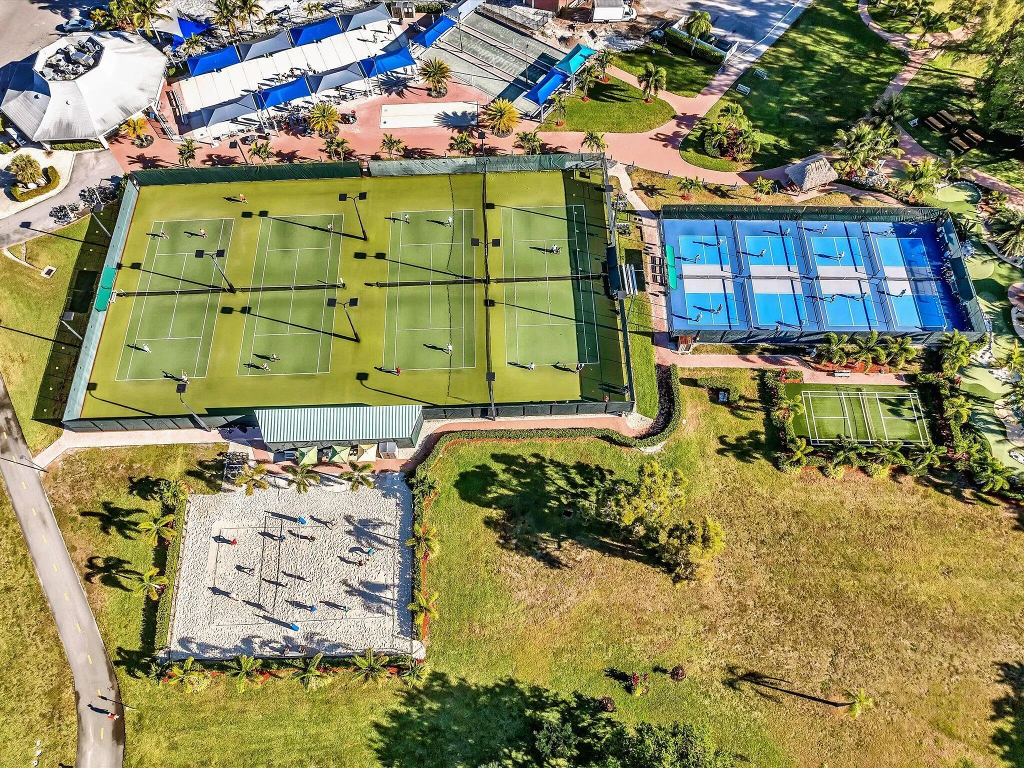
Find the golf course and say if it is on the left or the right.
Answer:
right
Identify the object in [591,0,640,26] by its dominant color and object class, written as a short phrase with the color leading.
white truck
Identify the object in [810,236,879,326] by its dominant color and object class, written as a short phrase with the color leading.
blue sports court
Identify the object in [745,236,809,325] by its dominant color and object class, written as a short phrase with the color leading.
blue sports court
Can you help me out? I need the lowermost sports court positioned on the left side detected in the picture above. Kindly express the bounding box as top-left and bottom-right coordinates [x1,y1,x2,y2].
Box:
[168,482,419,659]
